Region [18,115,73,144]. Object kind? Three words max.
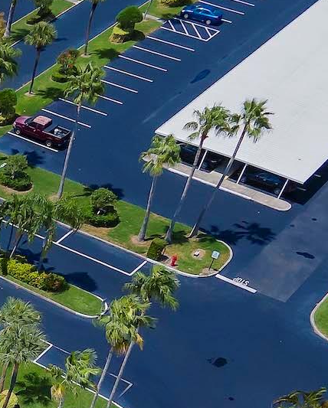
truck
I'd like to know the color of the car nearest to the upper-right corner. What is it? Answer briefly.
blue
